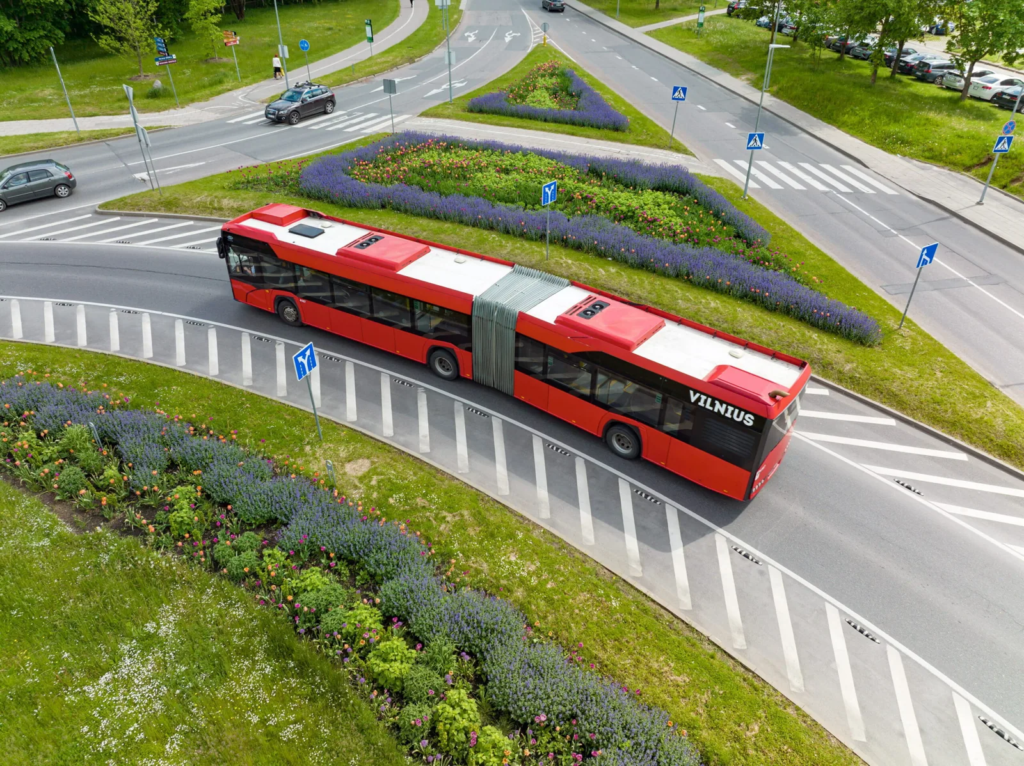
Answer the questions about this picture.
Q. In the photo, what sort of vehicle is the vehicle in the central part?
bus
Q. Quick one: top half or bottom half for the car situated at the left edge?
top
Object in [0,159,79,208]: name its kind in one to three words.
car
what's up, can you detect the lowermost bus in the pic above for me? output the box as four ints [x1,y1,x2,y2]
[213,198,814,503]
